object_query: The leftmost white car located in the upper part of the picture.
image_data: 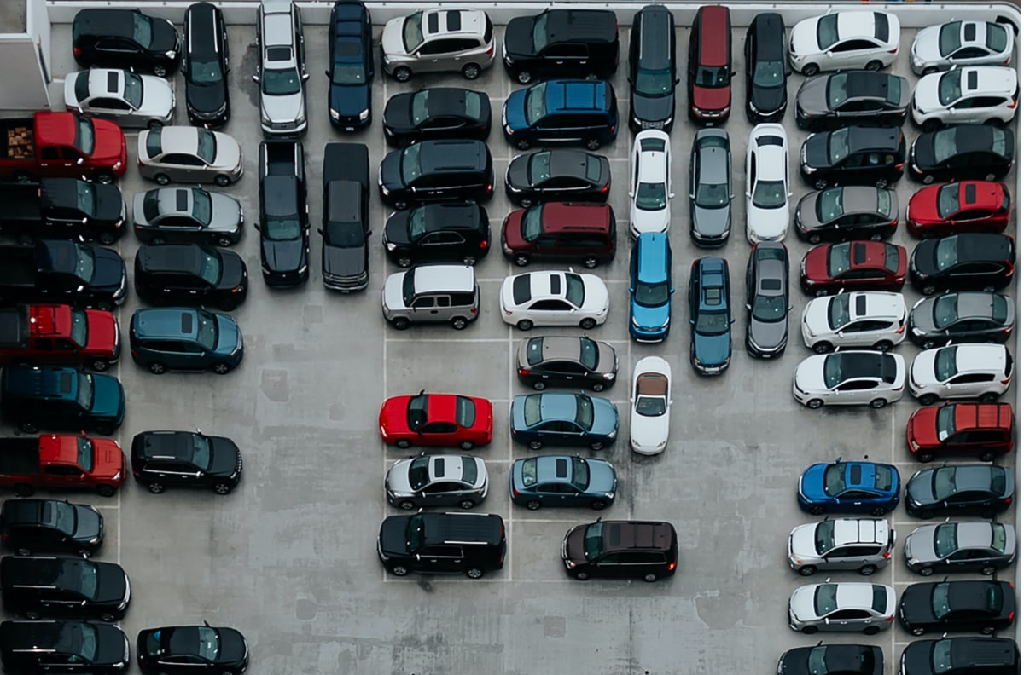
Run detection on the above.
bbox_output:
[64,66,175,128]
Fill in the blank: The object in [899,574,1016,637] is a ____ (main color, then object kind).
black car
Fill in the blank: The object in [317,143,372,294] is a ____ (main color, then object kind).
black truck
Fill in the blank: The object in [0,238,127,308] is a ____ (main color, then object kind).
black truck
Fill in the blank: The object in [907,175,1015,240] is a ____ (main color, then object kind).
red car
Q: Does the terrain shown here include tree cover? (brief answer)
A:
No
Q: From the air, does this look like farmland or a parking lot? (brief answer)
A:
parking lot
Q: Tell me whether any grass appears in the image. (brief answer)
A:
No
